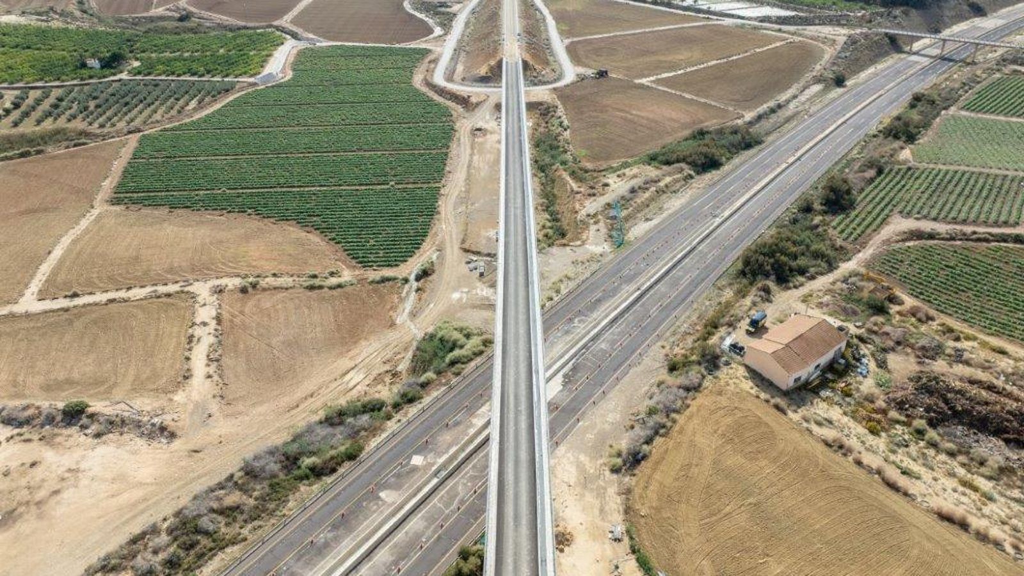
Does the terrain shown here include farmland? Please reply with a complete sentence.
Yes, some farmland is visible.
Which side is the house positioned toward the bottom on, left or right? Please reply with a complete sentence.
It is on the right.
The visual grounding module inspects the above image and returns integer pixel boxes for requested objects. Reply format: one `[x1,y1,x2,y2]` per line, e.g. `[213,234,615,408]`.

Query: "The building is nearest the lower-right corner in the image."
[743,314,851,391]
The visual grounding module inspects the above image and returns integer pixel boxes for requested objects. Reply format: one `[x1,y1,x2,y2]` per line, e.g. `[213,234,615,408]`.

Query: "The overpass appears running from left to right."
[857,28,1024,59]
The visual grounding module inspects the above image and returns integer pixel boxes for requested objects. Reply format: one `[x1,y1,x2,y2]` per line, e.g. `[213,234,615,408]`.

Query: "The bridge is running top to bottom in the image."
[484,59,557,576]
